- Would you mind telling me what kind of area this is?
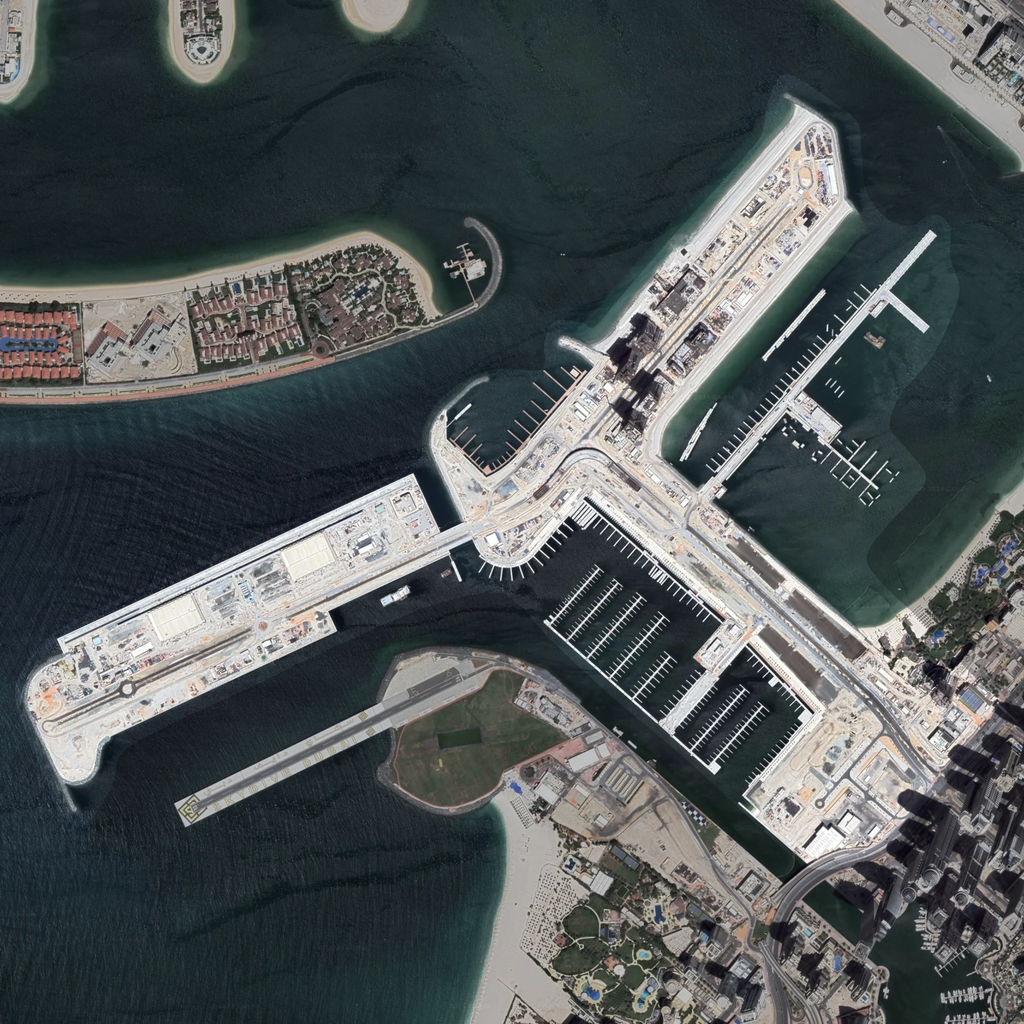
port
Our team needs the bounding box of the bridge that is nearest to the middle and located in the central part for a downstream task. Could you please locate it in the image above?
[433,516,475,551]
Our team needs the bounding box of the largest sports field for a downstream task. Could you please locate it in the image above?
[438,727,482,749]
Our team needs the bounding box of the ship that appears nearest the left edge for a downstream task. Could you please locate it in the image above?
[380,585,411,606]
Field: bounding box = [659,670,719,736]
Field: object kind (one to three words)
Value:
pier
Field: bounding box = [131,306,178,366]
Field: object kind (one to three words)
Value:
building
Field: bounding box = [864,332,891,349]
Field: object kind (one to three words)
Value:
ship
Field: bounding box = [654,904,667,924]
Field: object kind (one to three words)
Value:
swimming pool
